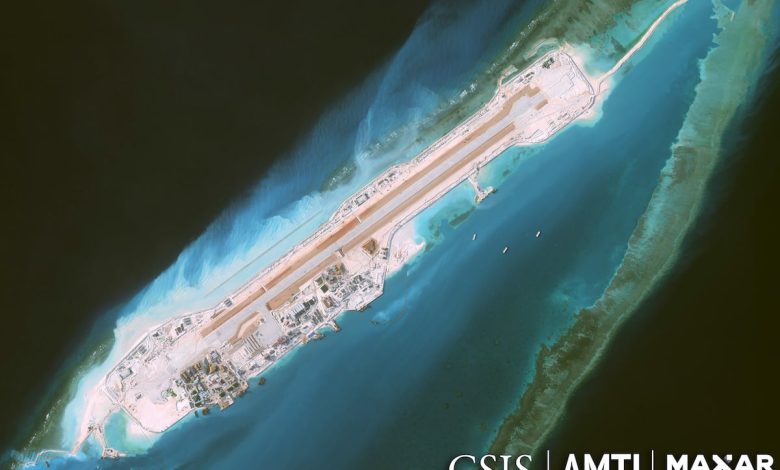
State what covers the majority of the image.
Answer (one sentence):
For the most part, this view shows water.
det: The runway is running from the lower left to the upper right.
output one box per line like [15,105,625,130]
[189,112,519,353]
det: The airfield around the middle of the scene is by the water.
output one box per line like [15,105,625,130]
[189,85,548,359]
